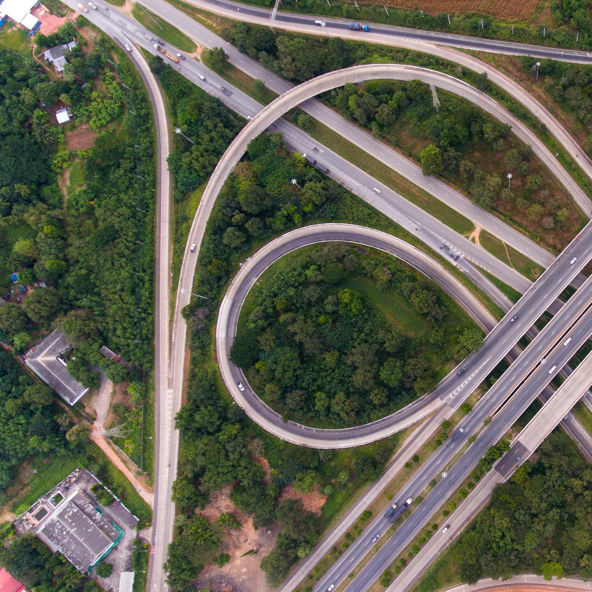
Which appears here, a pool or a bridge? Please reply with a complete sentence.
The image shows a bridge.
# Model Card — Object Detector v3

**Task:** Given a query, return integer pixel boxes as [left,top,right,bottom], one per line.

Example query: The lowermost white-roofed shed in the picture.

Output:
[118,571,139,592]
